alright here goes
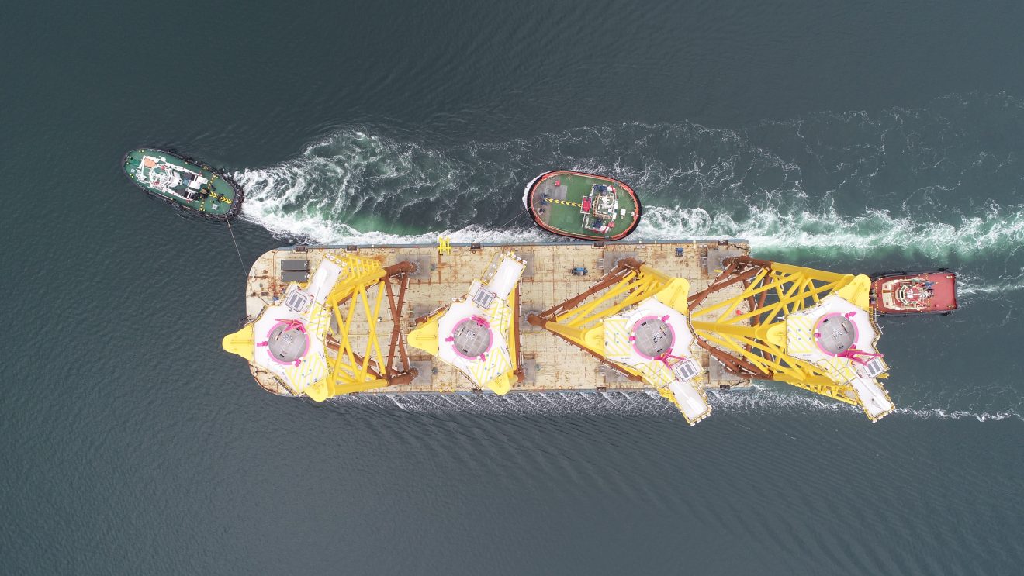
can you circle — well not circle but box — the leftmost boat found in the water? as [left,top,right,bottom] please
[120,147,247,222]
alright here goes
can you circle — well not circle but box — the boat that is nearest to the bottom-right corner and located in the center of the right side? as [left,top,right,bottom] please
[865,269,959,317]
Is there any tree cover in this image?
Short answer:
No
